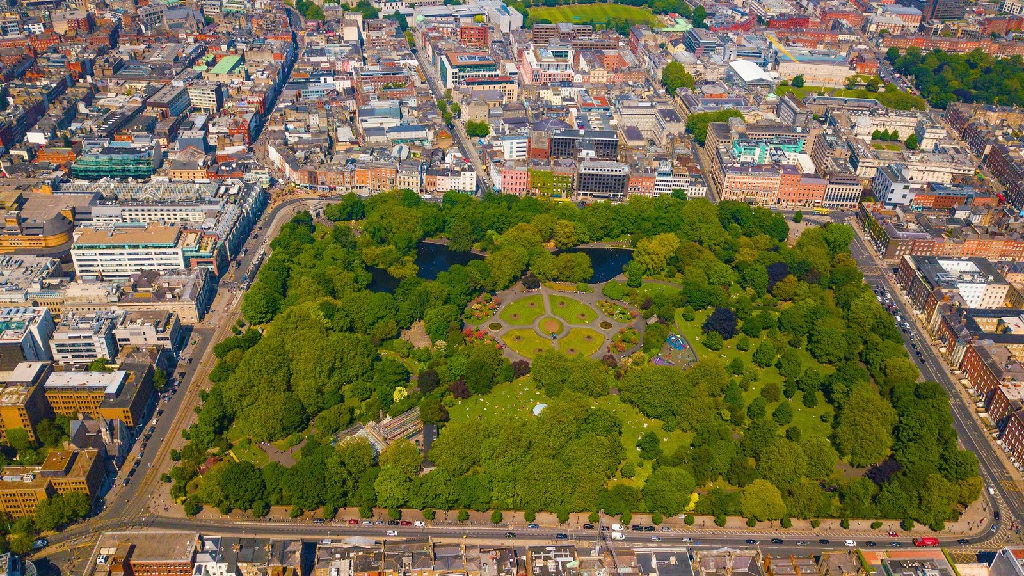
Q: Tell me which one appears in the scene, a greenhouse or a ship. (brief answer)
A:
greenhouse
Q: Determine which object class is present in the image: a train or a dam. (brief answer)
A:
train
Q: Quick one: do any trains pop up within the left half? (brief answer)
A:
Yes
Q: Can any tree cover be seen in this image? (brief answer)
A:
Yes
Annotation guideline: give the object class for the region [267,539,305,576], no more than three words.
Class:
house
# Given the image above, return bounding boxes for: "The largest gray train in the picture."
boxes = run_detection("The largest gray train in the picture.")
[240,248,266,291]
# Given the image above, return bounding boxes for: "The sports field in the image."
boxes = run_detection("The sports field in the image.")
[531,3,653,31]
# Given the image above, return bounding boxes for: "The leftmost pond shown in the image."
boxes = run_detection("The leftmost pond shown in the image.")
[371,241,487,292]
